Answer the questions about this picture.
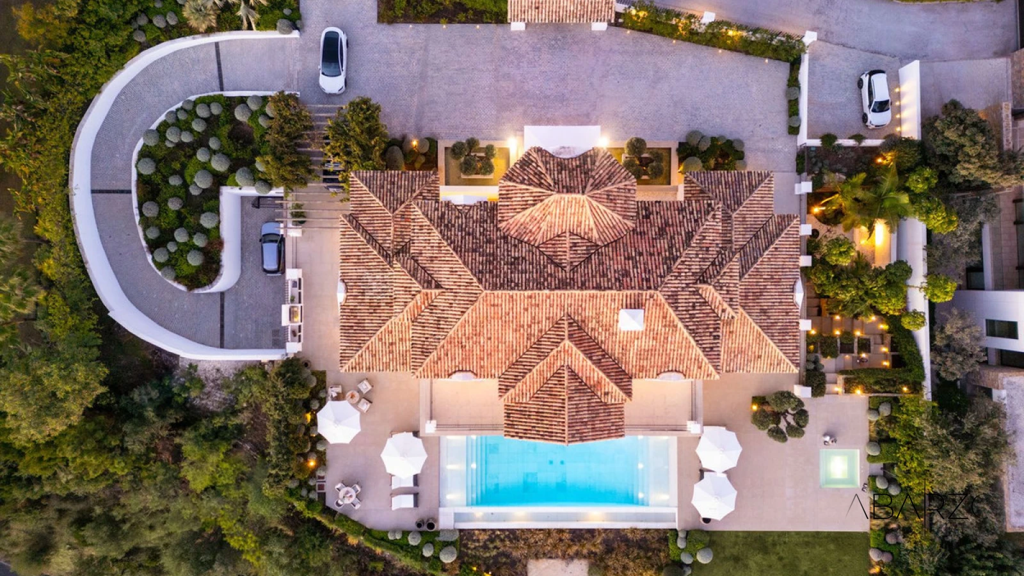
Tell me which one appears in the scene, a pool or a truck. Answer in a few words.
pool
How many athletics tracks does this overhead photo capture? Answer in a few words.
0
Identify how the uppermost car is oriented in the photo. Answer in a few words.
from top to bottom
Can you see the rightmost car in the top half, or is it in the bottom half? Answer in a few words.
top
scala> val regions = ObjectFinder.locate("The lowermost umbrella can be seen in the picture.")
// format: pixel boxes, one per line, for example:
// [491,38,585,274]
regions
[692,473,737,519]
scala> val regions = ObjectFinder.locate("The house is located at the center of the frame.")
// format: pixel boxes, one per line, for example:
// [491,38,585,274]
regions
[338,125,802,447]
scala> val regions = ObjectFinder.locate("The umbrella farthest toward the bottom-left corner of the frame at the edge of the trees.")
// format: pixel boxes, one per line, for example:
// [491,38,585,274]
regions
[317,401,360,444]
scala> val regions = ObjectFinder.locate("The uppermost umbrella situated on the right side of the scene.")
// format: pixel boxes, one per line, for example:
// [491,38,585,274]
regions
[695,426,742,473]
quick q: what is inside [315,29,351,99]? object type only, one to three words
car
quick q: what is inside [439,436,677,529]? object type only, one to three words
swimming pool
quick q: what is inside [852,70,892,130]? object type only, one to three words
car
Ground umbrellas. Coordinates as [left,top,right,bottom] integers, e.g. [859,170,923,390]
[692,473,737,519]
[380,432,427,479]
[317,401,360,444]
[695,426,742,473]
